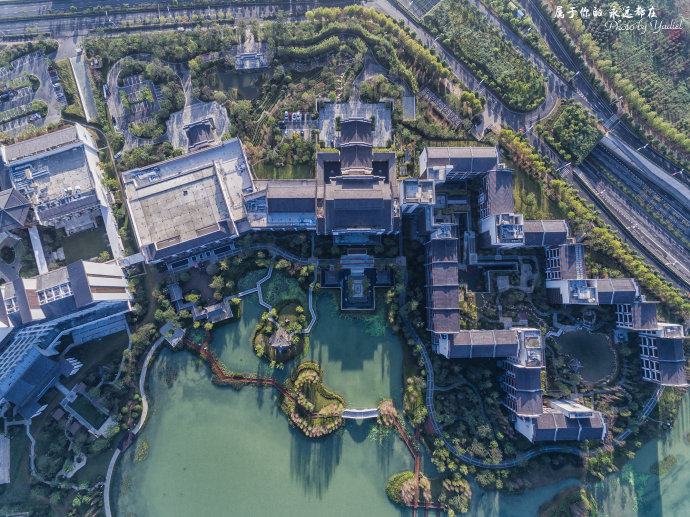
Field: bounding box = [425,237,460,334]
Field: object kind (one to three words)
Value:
building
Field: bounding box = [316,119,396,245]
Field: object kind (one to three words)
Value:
building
